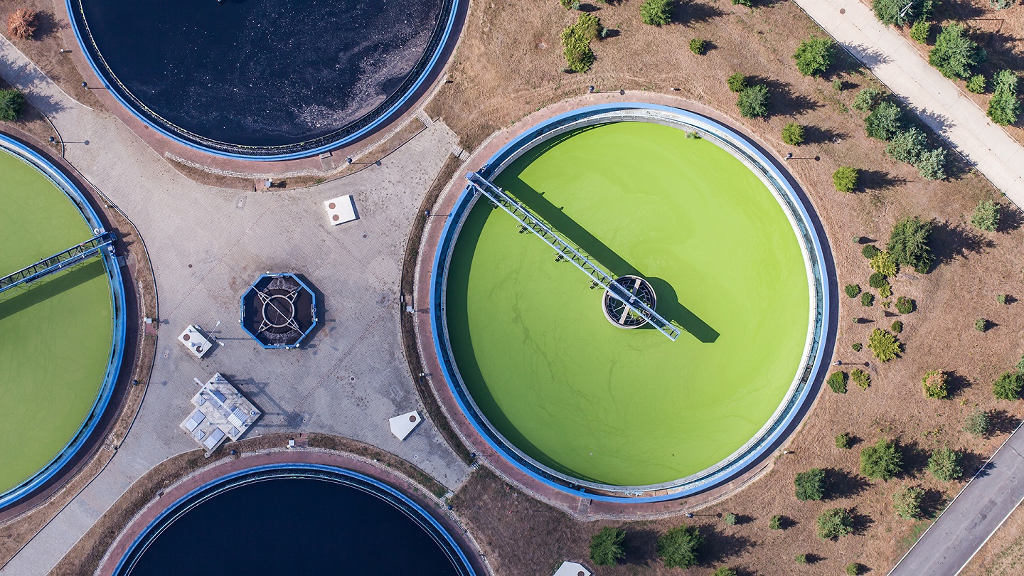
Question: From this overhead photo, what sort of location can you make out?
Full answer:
The picture captures an industrial area.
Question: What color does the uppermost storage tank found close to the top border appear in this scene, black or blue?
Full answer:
The color of the uppermost storage tank found close to the top border is blue.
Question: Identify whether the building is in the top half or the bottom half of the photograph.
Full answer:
You can find the building in the bottom half.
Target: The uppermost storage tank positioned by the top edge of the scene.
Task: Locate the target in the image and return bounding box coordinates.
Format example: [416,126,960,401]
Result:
[65,0,459,162]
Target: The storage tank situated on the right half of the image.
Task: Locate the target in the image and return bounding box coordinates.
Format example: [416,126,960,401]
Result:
[430,103,830,503]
